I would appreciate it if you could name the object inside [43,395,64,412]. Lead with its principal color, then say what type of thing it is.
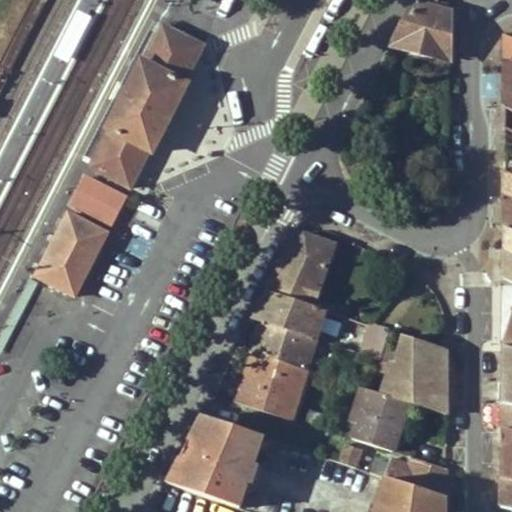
white car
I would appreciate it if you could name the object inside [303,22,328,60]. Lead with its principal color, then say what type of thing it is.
white vehicle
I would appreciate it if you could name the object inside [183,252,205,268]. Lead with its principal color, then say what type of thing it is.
white car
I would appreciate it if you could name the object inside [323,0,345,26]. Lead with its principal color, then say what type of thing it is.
white vehicle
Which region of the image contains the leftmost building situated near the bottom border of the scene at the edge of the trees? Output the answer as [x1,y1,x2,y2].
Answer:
[165,413,264,511]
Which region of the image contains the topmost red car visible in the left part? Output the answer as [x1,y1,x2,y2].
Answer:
[166,282,186,298]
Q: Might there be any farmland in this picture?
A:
No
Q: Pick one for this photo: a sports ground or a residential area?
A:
residential area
